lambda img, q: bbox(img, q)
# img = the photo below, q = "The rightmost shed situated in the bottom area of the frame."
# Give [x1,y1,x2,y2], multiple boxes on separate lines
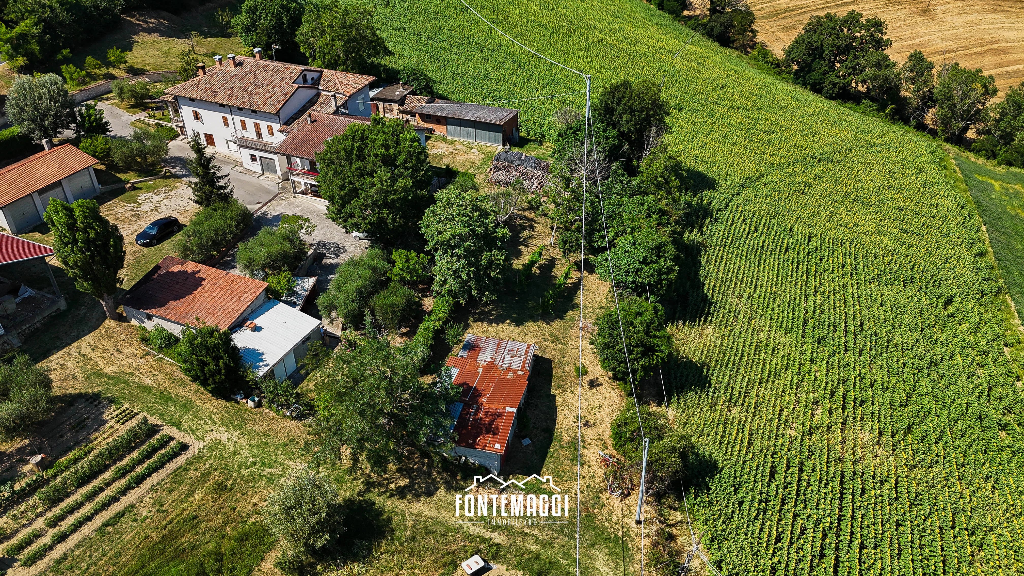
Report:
[437,331,537,476]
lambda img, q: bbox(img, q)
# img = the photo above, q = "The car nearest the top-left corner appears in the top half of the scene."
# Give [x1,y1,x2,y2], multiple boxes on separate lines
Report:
[130,216,181,244]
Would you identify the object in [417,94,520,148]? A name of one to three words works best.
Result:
shed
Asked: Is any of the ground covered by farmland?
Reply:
Yes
